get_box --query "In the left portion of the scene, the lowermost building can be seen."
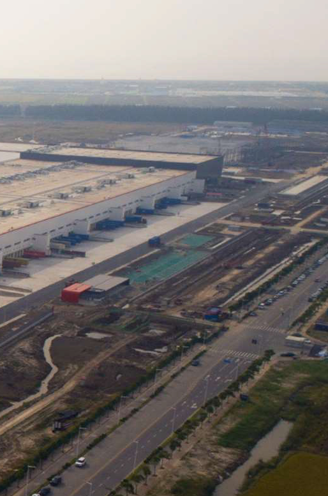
[61,272,124,302]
